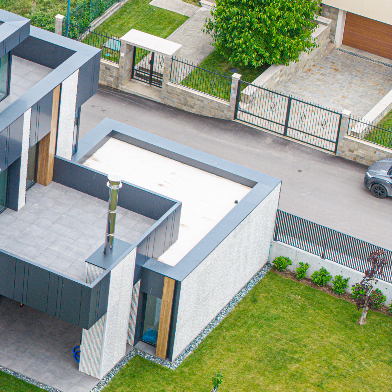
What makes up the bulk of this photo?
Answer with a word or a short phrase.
buildings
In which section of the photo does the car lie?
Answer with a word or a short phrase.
right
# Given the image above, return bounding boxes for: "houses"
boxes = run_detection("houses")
[304,0,392,59]
[0,10,282,392]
